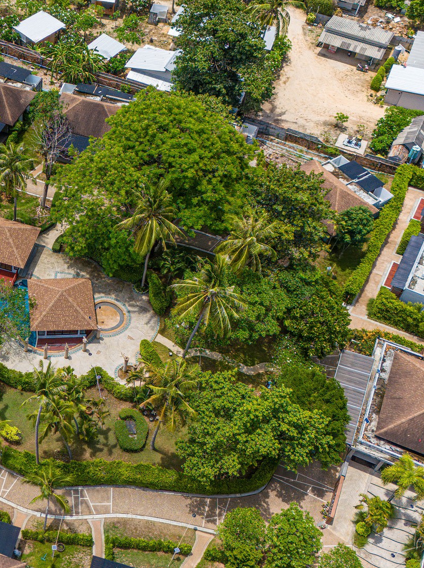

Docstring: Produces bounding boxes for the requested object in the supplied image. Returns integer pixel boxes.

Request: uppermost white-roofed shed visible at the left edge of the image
[16,10,65,56]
